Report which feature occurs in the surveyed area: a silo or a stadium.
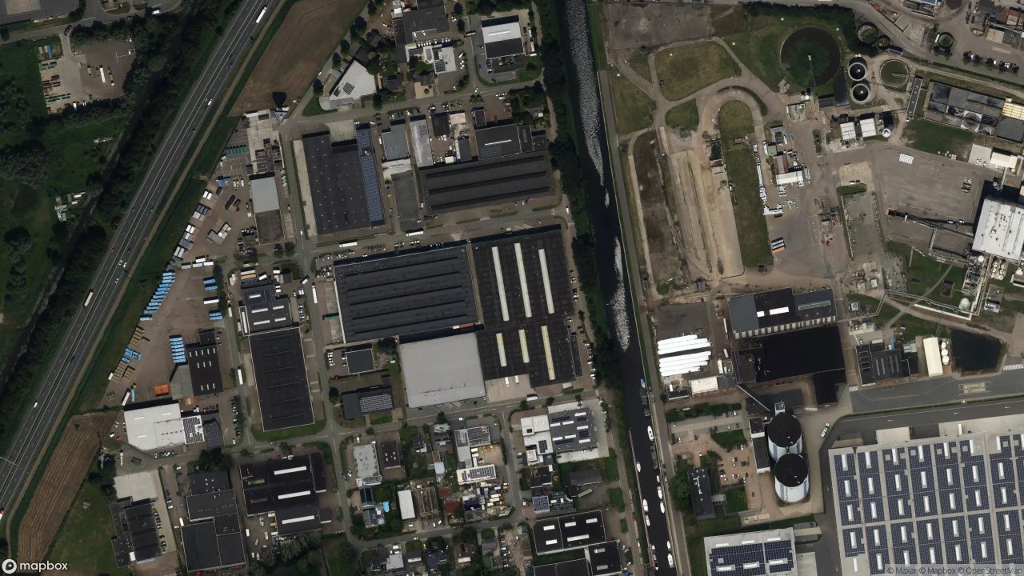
silo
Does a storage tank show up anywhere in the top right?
Yes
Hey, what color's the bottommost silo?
black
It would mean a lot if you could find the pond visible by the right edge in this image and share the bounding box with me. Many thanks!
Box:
[952,330,1003,373]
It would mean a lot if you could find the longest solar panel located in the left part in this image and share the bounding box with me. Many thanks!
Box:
[361,150,383,218]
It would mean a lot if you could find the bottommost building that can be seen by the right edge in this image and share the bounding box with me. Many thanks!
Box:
[828,429,1024,576]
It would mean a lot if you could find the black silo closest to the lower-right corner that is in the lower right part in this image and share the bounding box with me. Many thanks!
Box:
[773,453,809,500]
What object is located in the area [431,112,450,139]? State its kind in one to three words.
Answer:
building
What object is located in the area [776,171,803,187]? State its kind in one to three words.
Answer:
shed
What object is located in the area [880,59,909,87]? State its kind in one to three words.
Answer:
storage tank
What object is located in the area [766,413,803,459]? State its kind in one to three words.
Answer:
silo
